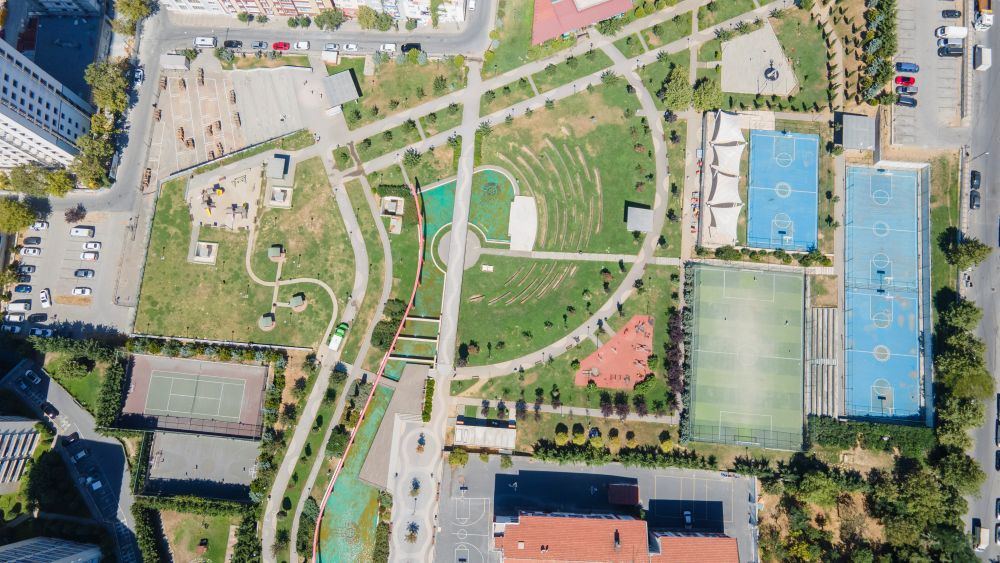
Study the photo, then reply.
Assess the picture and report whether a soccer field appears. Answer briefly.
Yes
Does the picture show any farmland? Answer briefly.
No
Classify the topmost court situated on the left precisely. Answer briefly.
tennis court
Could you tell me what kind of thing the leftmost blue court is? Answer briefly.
basketball court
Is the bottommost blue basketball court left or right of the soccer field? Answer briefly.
right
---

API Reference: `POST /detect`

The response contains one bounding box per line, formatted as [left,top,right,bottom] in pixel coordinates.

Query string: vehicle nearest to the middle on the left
[331,322,354,351]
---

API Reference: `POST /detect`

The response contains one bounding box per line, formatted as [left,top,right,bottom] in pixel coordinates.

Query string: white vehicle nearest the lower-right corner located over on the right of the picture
[973,525,990,550]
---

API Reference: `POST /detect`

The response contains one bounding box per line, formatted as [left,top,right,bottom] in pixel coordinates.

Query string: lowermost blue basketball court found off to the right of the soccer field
[846,287,920,417]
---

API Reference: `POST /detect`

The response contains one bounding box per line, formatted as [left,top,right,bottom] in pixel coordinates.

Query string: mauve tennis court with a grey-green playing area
[120,354,268,439]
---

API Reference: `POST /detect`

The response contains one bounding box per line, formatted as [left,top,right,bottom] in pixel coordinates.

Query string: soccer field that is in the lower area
[688,265,806,449]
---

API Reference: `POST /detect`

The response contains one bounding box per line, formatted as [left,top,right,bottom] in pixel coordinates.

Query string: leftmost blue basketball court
[747,131,820,251]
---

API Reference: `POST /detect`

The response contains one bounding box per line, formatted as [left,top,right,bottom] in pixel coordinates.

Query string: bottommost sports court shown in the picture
[144,433,261,502]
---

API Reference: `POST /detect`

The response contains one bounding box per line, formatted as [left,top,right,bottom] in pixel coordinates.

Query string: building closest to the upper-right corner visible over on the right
[838,115,875,154]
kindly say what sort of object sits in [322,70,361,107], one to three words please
building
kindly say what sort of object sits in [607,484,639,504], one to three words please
shed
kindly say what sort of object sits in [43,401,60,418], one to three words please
car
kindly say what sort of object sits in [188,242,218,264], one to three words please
building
